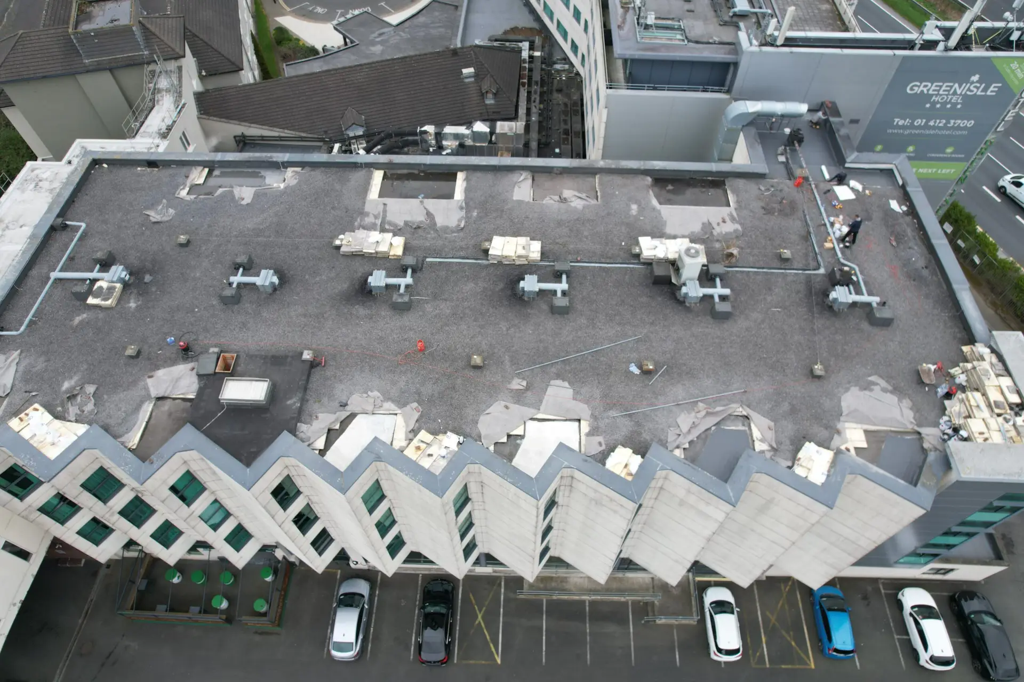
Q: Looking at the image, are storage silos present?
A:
No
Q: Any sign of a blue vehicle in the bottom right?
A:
Yes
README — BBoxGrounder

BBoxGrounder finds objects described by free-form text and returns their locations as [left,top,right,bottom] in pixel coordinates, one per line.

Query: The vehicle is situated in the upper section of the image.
[997,176,1024,214]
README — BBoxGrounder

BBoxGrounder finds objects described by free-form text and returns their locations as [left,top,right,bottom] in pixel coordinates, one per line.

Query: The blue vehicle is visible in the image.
[807,586,854,665]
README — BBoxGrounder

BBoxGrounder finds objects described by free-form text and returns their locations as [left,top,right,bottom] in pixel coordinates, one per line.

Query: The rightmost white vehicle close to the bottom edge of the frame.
[894,589,956,675]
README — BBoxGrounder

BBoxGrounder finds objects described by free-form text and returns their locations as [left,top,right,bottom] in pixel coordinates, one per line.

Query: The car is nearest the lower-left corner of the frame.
[327,579,373,668]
